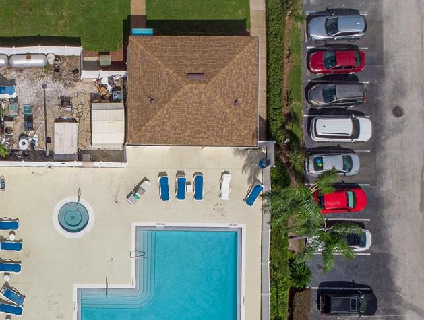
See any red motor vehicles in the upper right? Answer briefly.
Yes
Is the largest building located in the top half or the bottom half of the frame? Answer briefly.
top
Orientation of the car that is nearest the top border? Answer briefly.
from left to right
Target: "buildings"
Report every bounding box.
[55,122,78,160]
[125,28,260,149]
[92,103,124,153]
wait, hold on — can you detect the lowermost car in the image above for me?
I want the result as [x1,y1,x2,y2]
[316,287,377,316]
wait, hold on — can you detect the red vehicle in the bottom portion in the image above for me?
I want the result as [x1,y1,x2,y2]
[310,187,367,215]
